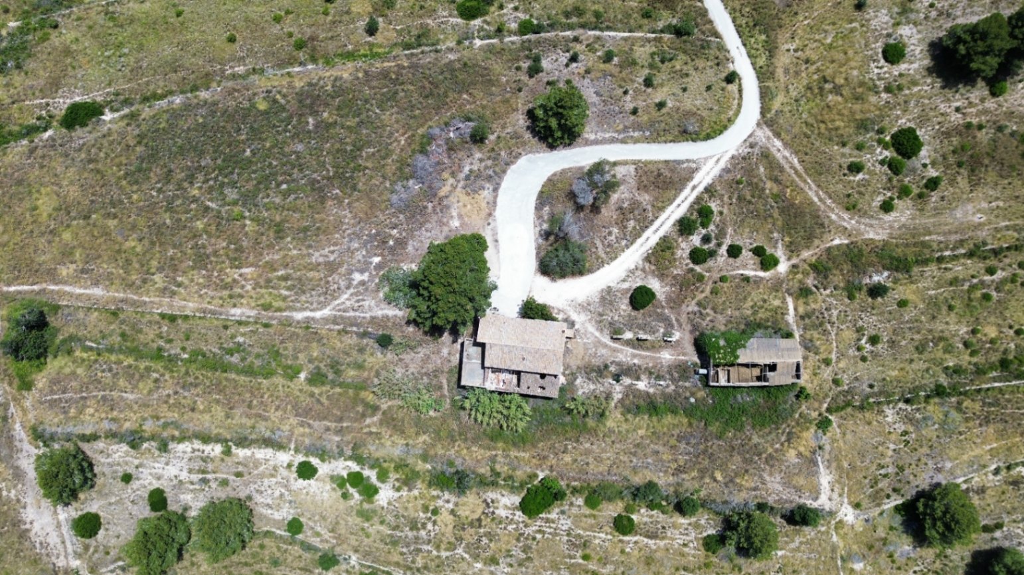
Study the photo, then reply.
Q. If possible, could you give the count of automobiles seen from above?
none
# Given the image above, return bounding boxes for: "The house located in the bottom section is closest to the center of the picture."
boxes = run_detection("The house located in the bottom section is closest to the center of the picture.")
[461,318,574,399]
